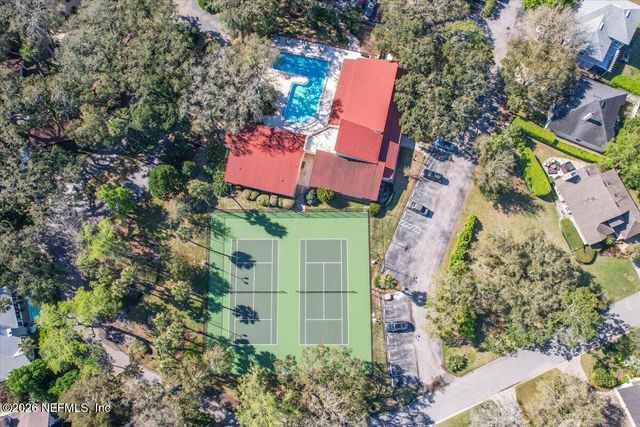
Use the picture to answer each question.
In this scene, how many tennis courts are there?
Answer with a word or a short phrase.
two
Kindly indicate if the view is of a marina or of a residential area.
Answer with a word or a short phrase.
residential area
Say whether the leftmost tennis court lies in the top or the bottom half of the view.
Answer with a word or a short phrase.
bottom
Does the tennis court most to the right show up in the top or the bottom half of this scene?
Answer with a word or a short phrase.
bottom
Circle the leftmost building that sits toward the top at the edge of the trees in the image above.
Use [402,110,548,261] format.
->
[225,119,308,197]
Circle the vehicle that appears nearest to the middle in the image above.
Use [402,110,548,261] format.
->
[409,199,434,216]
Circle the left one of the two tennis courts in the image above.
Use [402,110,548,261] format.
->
[206,212,289,376]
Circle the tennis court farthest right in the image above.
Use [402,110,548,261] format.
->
[288,212,371,376]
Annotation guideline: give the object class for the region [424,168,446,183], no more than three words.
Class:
car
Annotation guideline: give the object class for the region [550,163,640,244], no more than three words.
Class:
house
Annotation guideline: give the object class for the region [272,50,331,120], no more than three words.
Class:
swimming pool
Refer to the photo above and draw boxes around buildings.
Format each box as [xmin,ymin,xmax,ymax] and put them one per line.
[550,163,640,244]
[225,119,308,197]
[609,375,640,427]
[0,289,38,381]
[544,78,628,153]
[0,408,56,427]
[310,59,411,201]
[564,0,640,81]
